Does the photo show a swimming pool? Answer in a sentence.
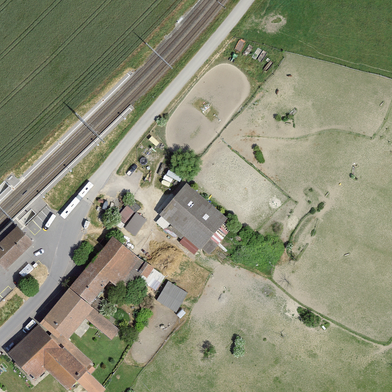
No, there's no swimming pool here.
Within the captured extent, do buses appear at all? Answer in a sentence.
Yes, there's a bus here.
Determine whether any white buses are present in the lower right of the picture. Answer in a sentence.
No, there is no white bus in the lower right of the picture.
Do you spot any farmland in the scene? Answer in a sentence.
Yes, there's farmland in this view.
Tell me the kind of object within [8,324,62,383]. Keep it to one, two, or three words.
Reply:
house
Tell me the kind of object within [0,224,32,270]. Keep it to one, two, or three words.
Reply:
building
